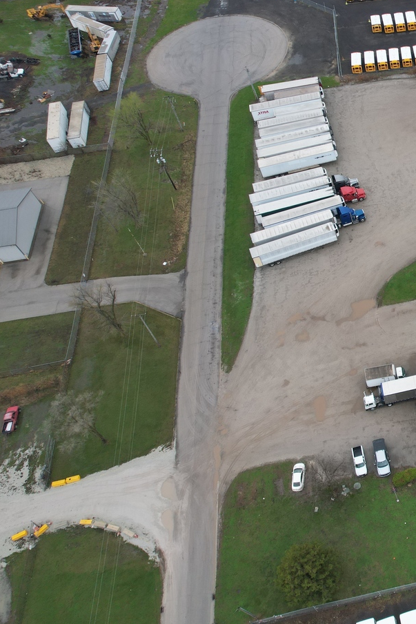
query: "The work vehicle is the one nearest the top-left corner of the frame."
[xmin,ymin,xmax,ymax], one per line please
[24,4,67,22]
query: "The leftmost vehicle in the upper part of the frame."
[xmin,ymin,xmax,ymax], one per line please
[0,70,24,82]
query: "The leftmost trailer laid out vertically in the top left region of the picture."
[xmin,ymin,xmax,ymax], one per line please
[47,102,66,150]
